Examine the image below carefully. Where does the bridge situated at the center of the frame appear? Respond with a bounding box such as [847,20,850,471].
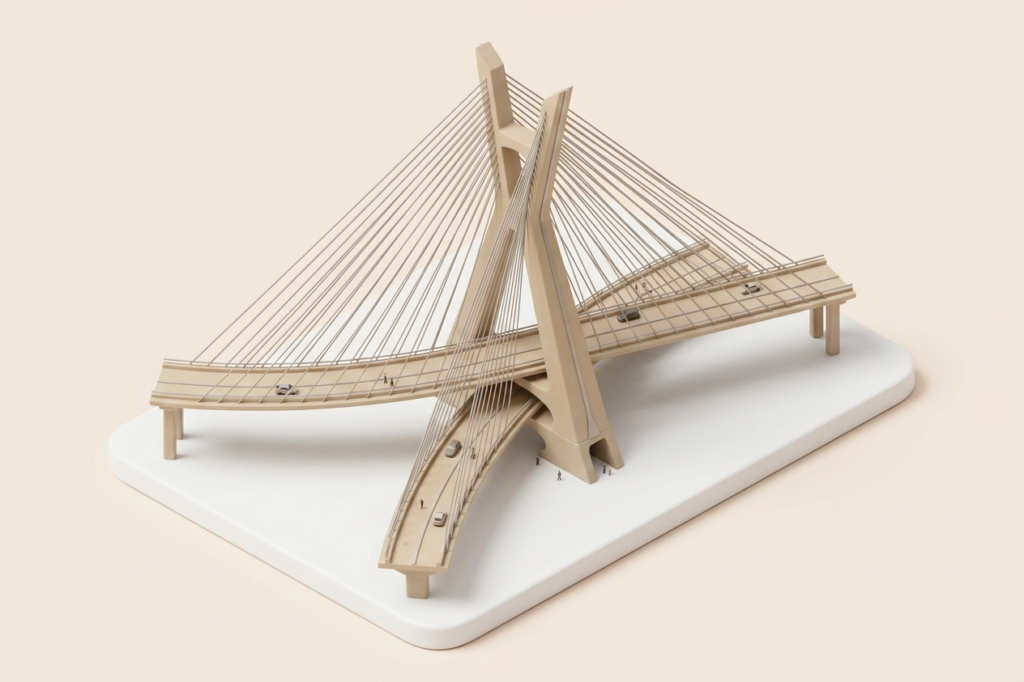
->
[150,45,855,599]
